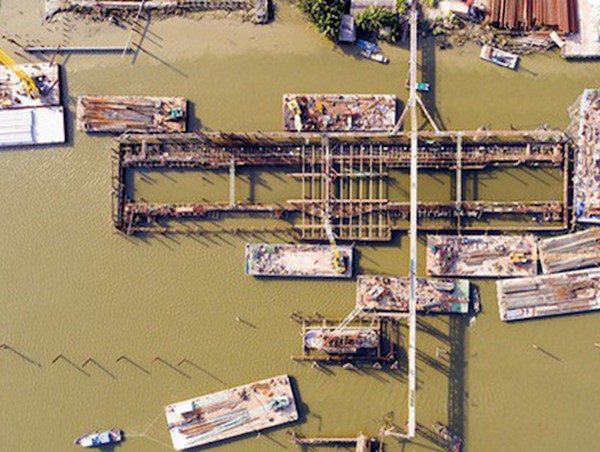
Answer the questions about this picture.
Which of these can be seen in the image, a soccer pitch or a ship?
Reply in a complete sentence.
Looking from above, you can make out a ship.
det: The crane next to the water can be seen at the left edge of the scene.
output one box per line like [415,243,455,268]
[0,53,45,103]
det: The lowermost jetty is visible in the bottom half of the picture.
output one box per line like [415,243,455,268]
[292,429,384,452]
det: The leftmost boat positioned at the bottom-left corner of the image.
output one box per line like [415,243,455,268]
[74,429,124,447]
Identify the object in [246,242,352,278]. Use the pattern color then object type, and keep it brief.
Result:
white ship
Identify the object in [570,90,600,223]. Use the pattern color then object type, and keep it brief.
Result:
white ship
